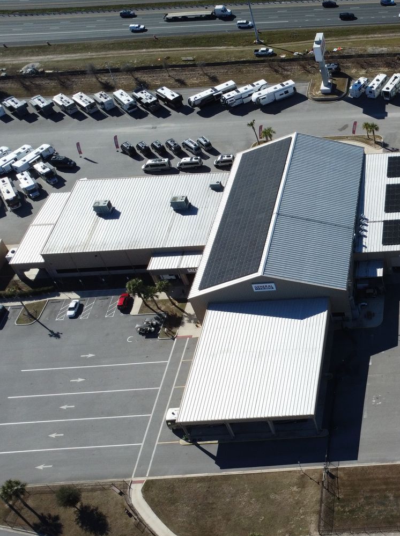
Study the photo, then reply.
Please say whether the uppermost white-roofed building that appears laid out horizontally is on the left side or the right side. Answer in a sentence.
The uppermost white-roofed building that appears laid out horizontally appears in the left half of the scene.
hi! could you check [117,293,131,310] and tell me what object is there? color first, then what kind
red car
